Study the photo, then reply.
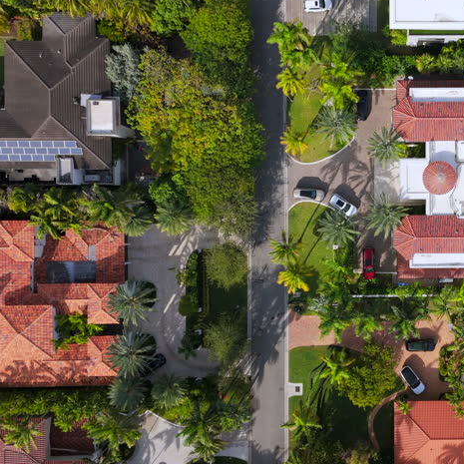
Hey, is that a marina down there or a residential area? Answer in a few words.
residential area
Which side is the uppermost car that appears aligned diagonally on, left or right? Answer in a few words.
right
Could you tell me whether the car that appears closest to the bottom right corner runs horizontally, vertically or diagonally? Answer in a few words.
diagonally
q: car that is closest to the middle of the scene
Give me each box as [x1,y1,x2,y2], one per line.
[294,189,326,203]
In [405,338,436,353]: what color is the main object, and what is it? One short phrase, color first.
black car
